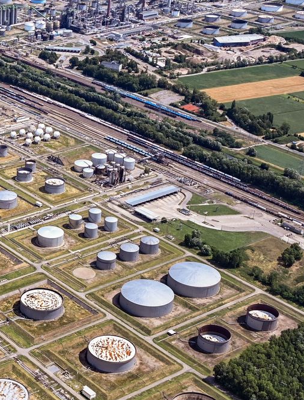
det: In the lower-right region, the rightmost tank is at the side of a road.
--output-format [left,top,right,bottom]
[245,303,285,332]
